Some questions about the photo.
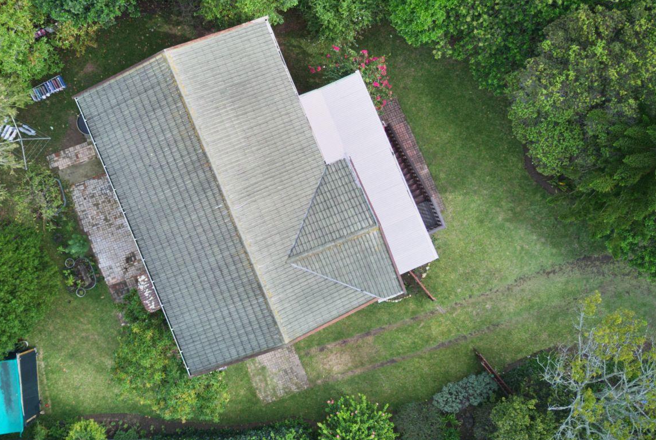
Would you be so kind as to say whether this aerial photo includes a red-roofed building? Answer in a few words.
No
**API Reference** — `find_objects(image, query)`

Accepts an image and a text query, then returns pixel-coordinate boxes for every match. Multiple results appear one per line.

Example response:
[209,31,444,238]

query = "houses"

[0,343,41,437]
[71,16,440,378]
